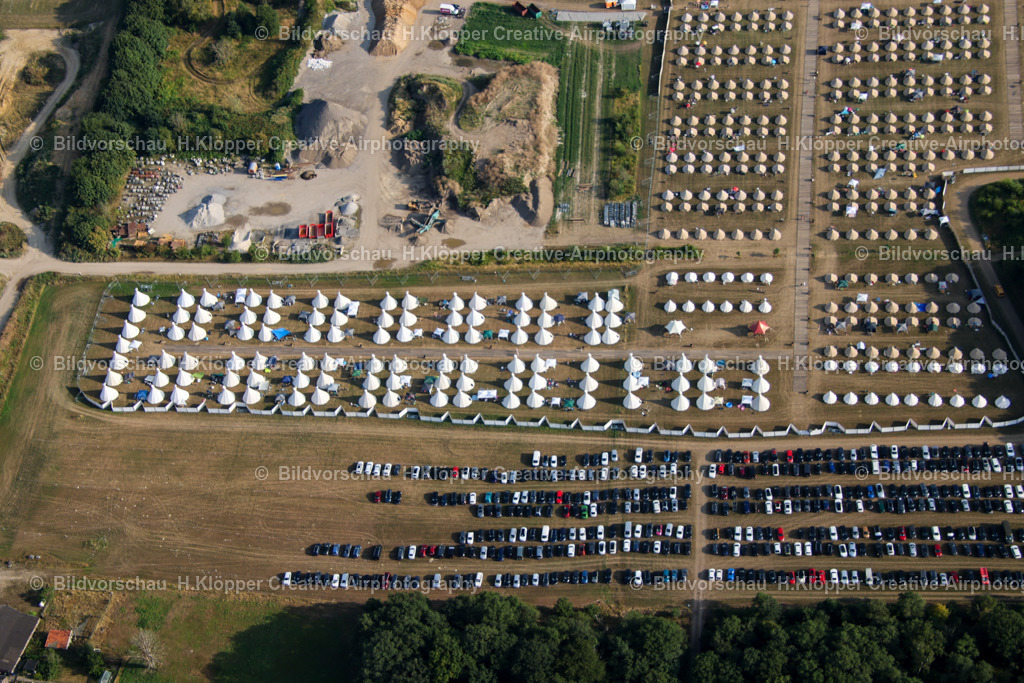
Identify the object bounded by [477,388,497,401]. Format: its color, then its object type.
white gazebo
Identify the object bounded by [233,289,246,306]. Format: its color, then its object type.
white gazebo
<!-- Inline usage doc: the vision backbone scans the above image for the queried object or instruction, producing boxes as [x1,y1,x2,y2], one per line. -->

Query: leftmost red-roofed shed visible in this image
[44,630,72,653]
